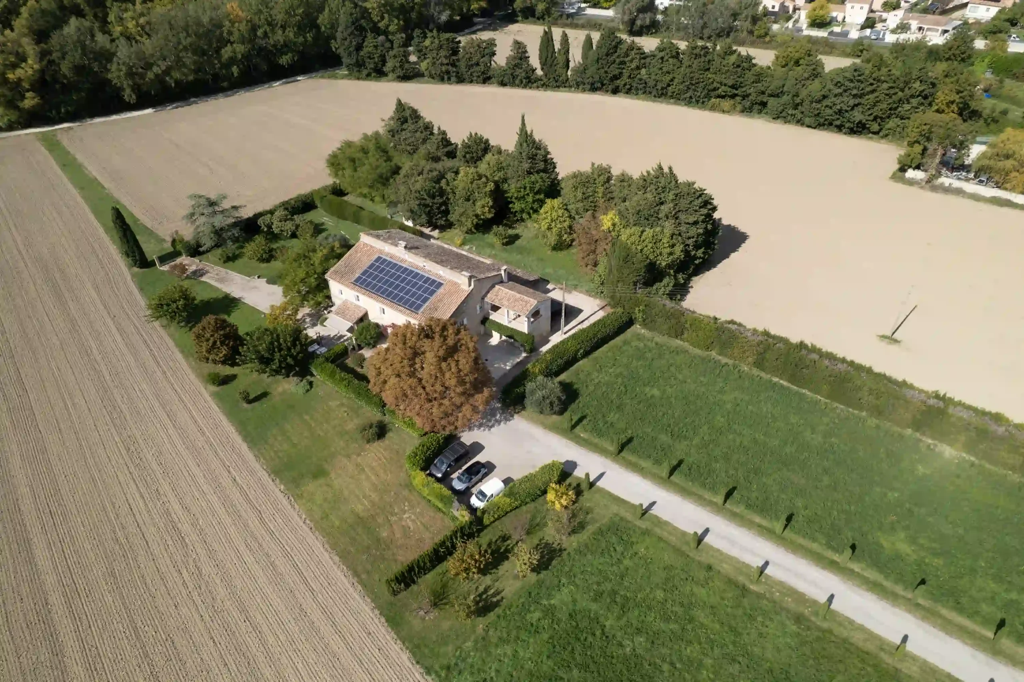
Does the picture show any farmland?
Yes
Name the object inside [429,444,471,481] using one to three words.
car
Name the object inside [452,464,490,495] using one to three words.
car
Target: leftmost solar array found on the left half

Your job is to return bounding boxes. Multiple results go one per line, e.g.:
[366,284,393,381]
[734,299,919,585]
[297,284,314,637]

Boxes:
[351,252,448,315]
